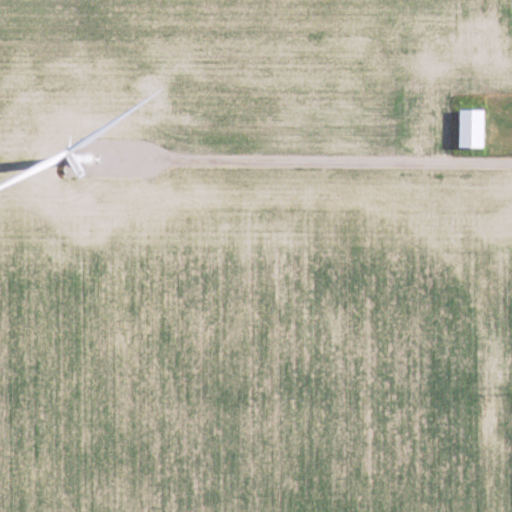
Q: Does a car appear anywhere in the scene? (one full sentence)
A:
No, the frame has no car in it.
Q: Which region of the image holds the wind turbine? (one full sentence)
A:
The wind turbine is in the top left part of the image.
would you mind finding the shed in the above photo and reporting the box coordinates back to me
[459,109,486,150]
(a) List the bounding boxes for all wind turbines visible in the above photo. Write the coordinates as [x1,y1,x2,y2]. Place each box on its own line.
[0,88,158,186]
